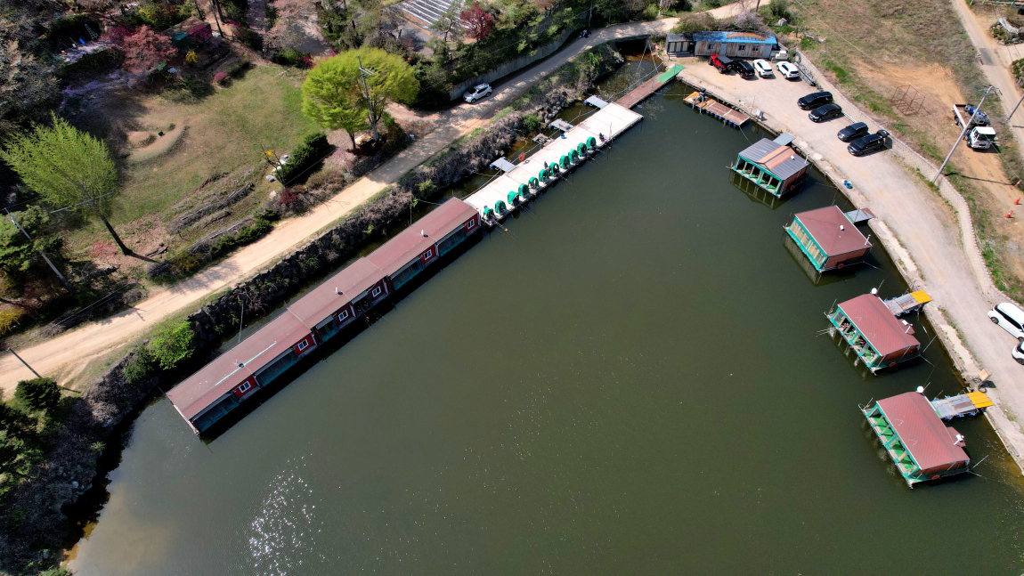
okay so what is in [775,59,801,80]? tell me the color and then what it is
white car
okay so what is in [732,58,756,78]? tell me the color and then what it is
black car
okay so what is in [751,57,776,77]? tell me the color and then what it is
white car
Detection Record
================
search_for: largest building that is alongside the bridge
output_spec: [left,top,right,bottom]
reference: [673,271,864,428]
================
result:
[693,29,781,58]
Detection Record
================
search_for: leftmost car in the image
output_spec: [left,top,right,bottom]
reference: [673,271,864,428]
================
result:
[462,81,495,102]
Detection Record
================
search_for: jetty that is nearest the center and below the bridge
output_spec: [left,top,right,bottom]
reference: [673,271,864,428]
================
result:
[464,102,643,227]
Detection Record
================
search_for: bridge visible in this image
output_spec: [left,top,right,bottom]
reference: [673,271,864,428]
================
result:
[609,20,668,54]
